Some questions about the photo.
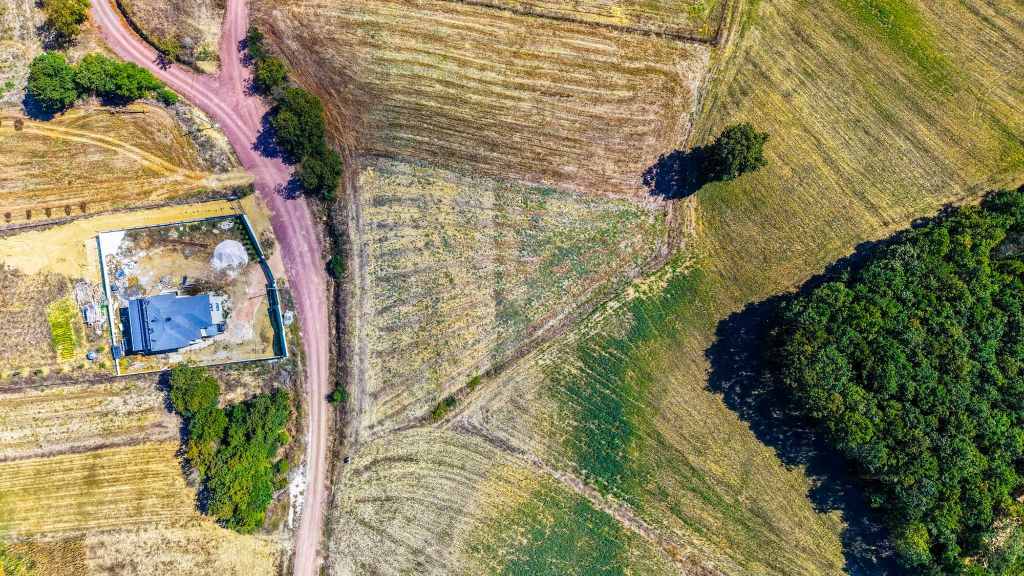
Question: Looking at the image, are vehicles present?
No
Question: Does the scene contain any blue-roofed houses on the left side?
Yes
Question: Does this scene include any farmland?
Yes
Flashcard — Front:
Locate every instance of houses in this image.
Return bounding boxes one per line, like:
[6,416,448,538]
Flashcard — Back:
[126,293,227,351]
